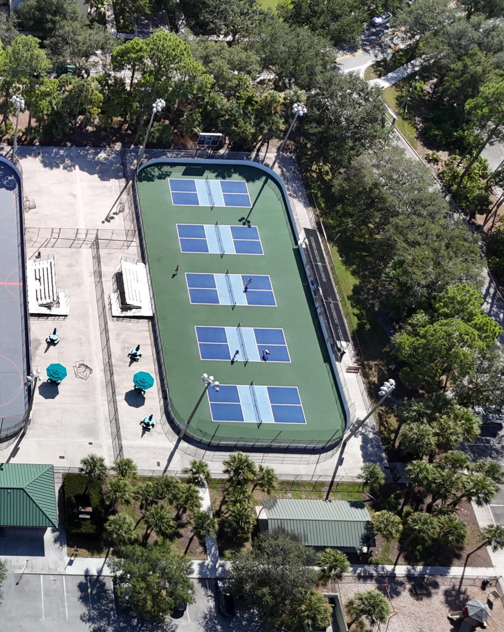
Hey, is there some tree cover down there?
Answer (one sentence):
Yes, some tree cover is visible.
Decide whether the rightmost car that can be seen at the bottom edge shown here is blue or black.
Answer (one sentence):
In this view, the rightmost car that can be seen at the bottom edge is black.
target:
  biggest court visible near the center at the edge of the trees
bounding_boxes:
[135,156,345,449]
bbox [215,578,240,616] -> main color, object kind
black car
